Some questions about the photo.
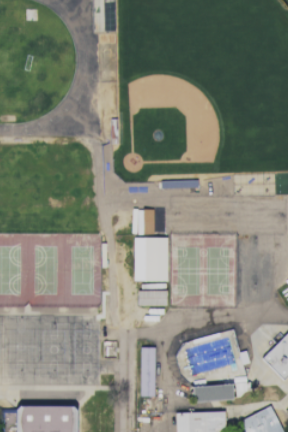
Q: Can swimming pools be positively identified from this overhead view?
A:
Yes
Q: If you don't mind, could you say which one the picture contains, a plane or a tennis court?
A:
tennis court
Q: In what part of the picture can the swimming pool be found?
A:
bottom right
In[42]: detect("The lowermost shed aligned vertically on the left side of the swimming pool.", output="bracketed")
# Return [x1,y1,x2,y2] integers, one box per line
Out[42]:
[141,348,156,398]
